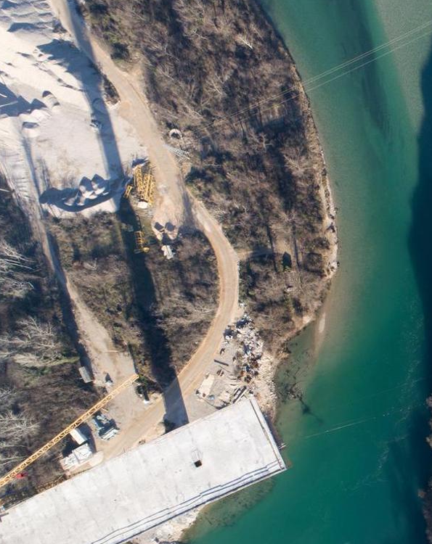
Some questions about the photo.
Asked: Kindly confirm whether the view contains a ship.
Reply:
No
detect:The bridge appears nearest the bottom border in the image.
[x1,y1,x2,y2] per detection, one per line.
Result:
[0,399,286,544]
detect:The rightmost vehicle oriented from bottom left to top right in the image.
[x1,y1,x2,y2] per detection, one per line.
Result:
[98,425,118,440]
